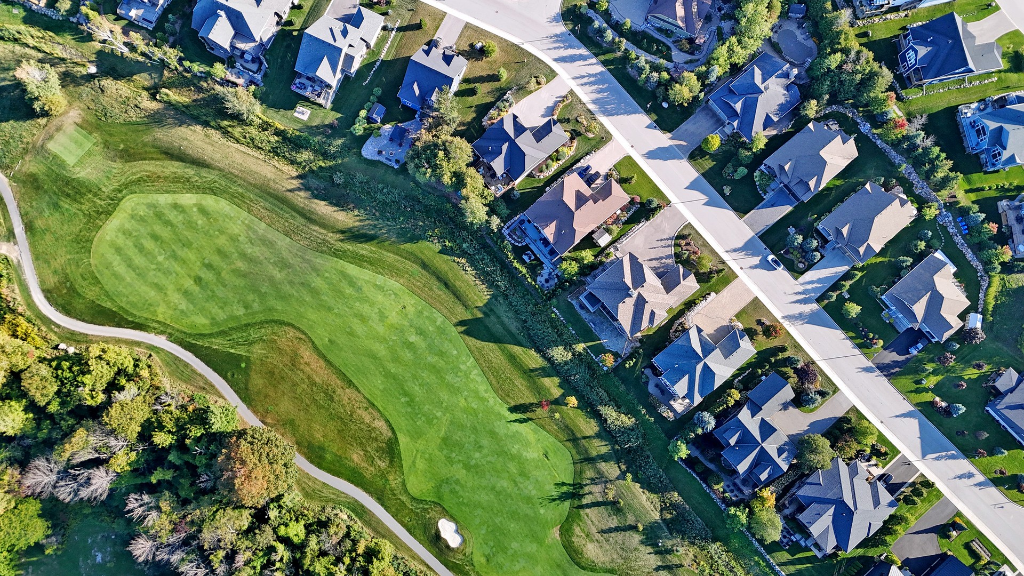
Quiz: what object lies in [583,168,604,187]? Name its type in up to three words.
car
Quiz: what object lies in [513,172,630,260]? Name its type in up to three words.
house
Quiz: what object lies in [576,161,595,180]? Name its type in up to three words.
vehicle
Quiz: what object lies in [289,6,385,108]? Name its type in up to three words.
house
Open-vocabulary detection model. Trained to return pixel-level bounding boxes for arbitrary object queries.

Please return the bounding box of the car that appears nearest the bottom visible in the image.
[878,469,899,487]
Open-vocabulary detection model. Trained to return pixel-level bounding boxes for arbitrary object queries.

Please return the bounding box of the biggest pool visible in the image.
[776,27,814,64]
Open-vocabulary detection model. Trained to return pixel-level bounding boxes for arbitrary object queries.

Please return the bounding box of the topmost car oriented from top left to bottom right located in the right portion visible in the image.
[765,252,784,272]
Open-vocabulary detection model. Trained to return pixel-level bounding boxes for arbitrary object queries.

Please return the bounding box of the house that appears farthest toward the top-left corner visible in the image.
[115,0,170,30]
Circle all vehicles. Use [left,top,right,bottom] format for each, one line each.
[583,168,604,187]
[576,161,595,180]
[878,469,899,487]
[907,336,931,356]
[765,252,784,272]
